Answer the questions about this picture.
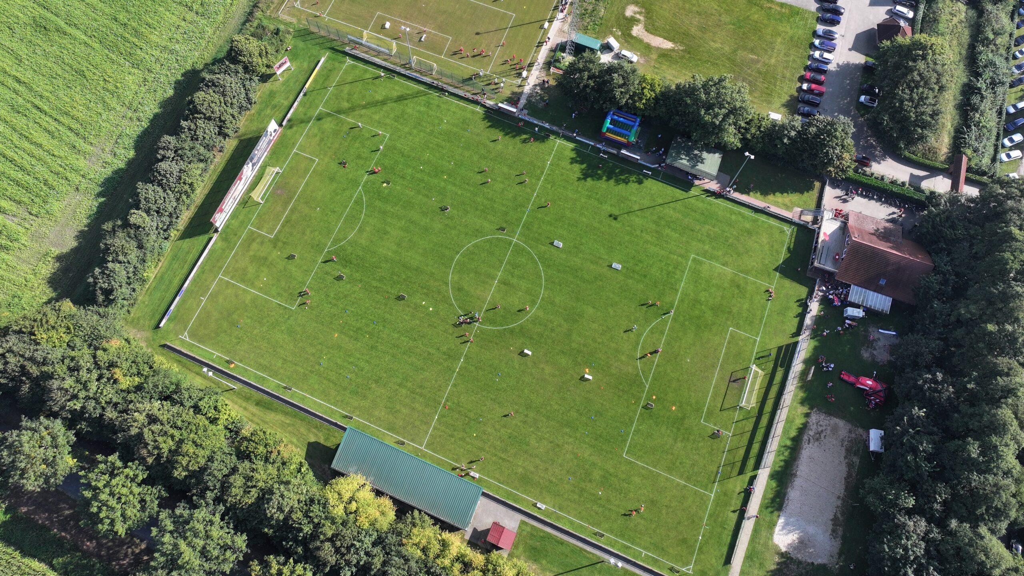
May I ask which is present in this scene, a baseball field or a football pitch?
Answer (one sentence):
The image shows a football pitch.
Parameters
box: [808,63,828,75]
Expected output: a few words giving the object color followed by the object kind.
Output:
blue vehicle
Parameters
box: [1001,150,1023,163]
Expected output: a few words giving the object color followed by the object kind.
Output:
white vehicle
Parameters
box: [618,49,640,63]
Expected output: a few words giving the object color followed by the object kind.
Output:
white car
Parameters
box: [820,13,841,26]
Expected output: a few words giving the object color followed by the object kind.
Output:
blue vehicle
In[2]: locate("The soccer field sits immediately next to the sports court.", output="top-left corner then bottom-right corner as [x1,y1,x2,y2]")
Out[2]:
[157,47,815,576]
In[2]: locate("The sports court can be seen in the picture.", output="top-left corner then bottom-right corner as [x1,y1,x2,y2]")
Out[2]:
[760,398,875,576]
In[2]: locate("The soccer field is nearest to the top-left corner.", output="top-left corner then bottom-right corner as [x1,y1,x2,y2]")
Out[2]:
[282,0,559,99]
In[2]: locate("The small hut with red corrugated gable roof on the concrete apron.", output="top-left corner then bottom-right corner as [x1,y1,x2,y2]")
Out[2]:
[486,522,517,552]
